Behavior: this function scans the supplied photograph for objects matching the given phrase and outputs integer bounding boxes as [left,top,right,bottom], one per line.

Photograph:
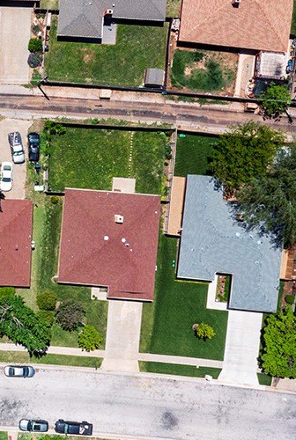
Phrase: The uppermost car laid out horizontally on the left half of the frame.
[4,364,34,378]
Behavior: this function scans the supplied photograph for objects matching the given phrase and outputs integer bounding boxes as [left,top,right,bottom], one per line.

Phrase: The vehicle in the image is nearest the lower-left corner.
[19,418,48,433]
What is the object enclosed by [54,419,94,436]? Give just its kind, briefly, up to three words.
vehicle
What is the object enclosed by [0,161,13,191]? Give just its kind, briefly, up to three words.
vehicle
